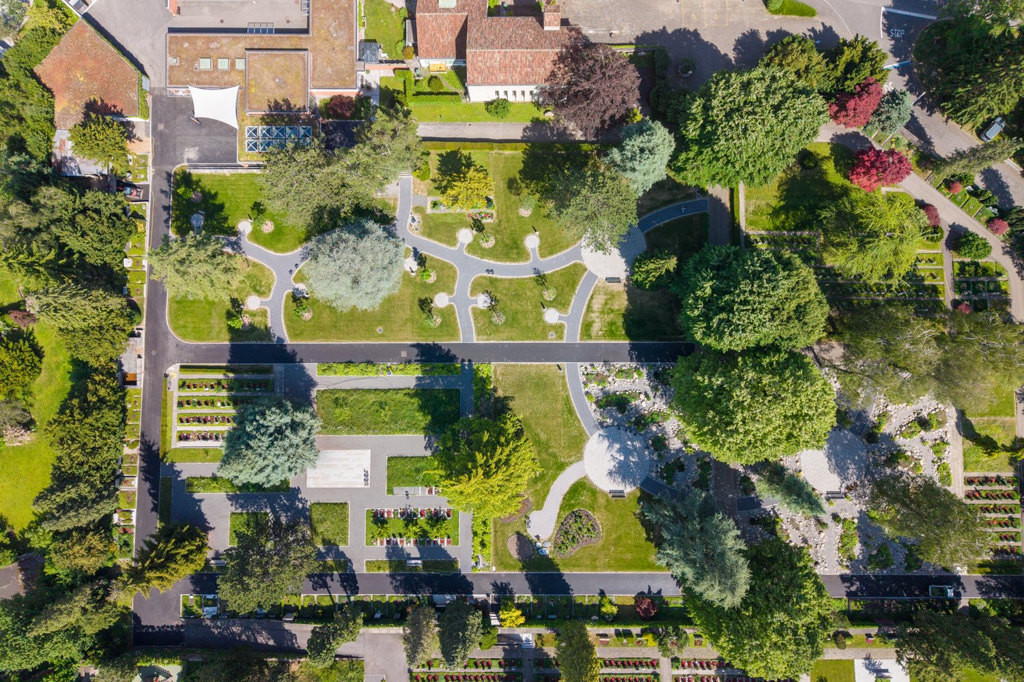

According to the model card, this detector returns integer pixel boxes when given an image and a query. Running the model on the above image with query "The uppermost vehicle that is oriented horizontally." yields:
[105,184,137,197]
